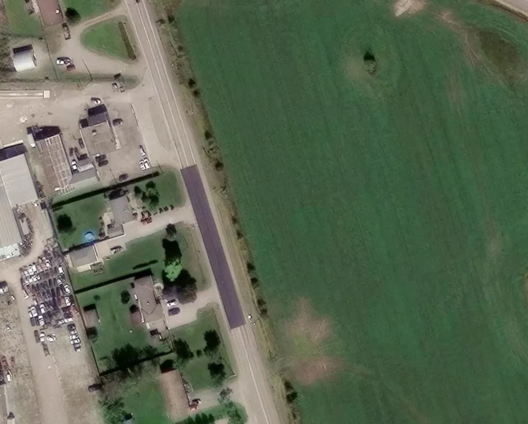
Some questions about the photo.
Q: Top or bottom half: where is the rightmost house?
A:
bottom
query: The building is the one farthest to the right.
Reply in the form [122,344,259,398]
[161,367,192,419]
